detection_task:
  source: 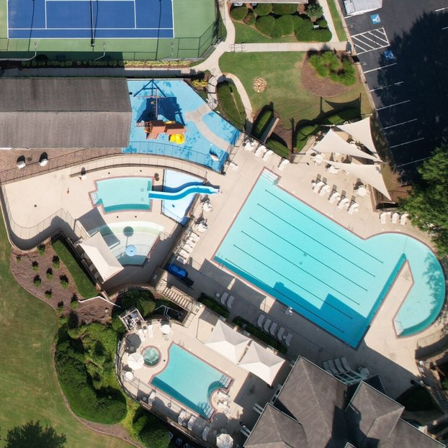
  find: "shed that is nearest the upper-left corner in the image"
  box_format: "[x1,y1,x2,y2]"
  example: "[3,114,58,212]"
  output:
[0,78,133,147]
